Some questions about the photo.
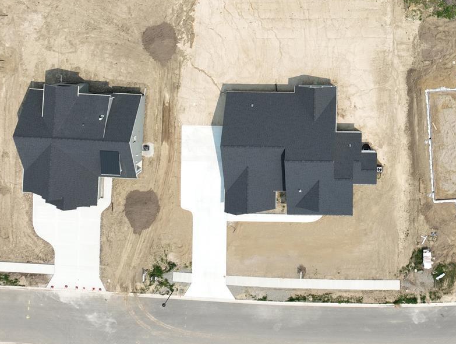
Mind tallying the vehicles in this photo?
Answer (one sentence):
The count of vehicles is 0.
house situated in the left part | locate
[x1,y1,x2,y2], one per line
[12,83,144,212]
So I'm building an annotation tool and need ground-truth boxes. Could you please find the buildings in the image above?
[12,83,144,212]
[221,86,377,216]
